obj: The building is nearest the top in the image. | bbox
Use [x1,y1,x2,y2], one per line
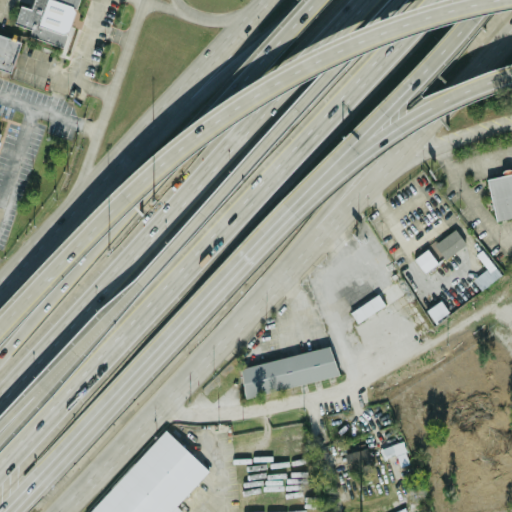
[16,0,80,48]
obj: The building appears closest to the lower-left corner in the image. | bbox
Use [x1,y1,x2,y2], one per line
[92,432,210,512]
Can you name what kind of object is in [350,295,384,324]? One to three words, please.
shed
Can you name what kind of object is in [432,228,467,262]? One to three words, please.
house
